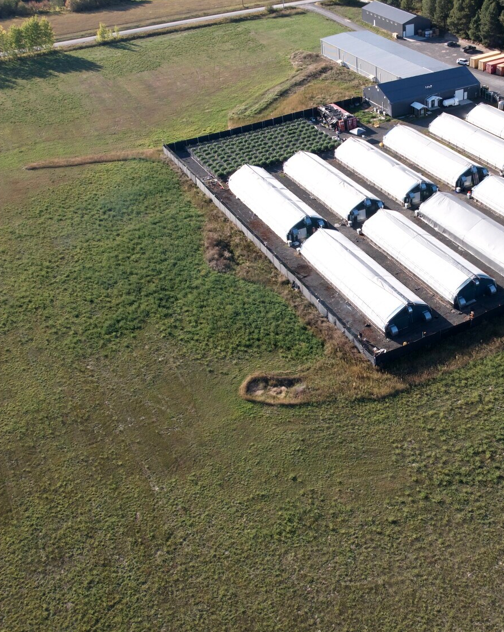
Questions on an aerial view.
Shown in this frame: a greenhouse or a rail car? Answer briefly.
greenhouse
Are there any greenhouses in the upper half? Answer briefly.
Yes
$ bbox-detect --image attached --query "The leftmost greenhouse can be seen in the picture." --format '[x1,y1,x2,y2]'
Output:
[227,158,327,242]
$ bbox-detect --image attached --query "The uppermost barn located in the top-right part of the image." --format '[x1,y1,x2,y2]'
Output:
[361,0,430,40]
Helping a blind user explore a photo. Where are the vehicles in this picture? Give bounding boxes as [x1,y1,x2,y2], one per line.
[445,39,460,45]
[455,56,465,65]
[460,43,478,52]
